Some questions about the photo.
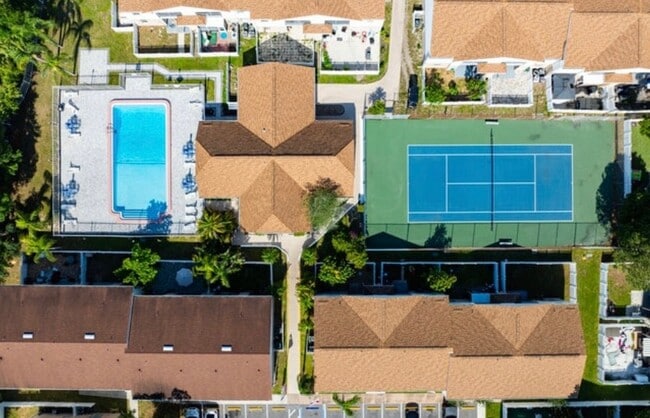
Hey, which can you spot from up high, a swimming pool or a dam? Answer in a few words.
swimming pool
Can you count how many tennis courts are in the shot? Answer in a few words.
1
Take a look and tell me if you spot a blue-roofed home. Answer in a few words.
No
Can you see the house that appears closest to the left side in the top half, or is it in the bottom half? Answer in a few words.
bottom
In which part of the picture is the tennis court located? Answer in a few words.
right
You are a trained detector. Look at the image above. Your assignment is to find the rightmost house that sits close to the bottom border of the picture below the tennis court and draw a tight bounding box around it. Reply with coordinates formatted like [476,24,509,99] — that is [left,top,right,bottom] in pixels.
[449,296,589,399]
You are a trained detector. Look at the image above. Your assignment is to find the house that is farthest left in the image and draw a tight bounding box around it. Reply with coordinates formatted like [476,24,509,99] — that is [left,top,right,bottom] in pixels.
[0,284,145,390]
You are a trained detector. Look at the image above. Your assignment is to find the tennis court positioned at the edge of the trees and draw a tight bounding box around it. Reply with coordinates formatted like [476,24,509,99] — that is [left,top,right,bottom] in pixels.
[364,119,617,249]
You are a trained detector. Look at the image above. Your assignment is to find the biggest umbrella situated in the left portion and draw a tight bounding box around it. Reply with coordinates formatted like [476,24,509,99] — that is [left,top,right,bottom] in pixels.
[176,265,195,284]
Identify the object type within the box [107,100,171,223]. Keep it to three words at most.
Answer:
swimming pool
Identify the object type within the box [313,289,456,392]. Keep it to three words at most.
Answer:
house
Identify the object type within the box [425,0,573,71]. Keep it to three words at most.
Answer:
house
